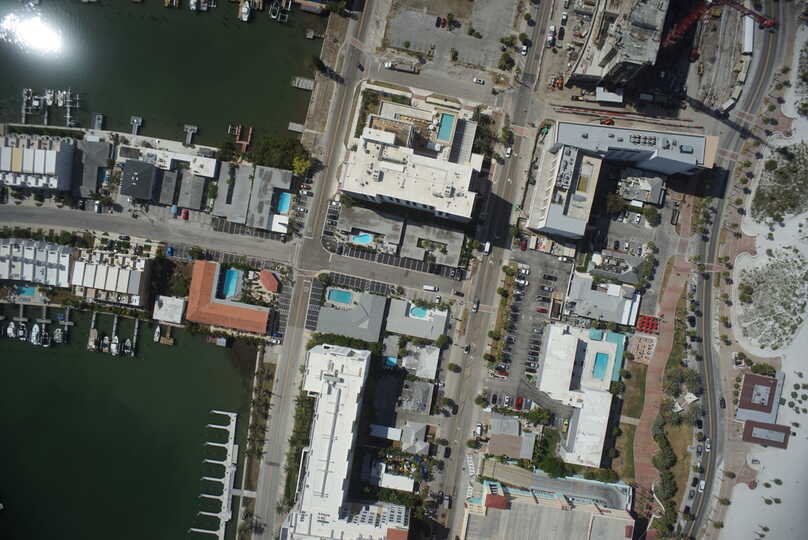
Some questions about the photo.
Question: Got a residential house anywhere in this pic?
Yes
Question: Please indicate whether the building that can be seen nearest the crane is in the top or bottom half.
top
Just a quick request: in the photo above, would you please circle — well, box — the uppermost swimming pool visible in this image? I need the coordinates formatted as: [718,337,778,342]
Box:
[437,112,456,143]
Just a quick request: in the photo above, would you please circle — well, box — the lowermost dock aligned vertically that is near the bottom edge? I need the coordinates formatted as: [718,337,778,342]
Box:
[186,409,239,540]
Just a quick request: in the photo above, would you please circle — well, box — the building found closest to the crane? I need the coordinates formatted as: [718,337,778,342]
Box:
[600,0,669,88]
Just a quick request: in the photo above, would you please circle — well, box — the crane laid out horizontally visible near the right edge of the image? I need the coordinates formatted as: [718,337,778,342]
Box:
[656,0,779,55]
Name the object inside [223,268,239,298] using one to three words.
swimming pool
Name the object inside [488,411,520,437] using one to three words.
house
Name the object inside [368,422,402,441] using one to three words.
building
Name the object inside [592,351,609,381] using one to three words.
swimming pool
